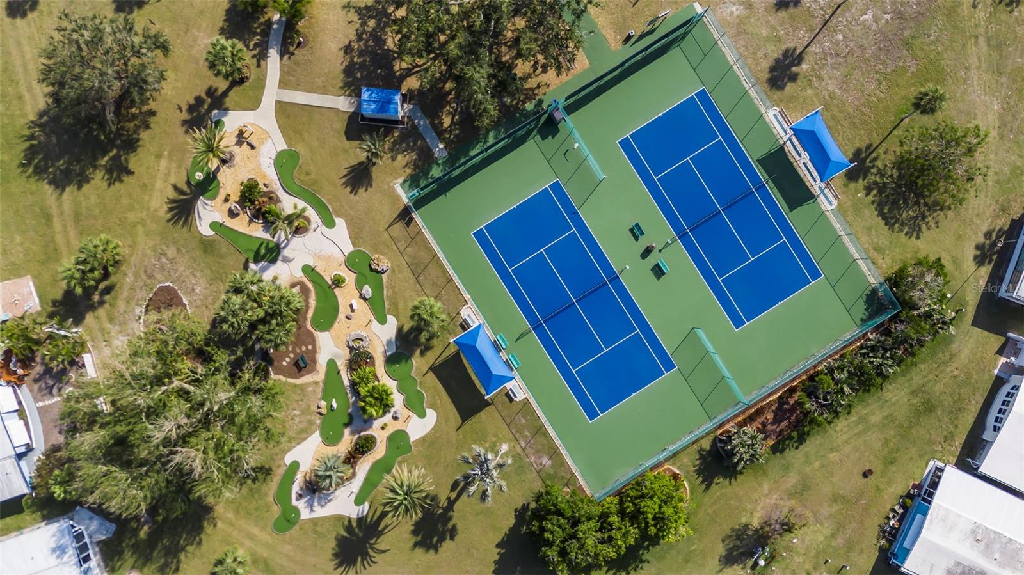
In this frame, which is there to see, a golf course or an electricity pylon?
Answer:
golf course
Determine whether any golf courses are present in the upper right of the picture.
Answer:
No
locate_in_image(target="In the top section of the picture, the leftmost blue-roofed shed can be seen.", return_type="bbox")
[360,87,421,126]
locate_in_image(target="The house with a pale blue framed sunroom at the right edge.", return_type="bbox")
[990,221,1024,305]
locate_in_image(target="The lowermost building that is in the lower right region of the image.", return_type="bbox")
[891,456,1024,575]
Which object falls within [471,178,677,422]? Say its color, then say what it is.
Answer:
blue tennis court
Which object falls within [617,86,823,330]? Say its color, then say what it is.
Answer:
blue tennis court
